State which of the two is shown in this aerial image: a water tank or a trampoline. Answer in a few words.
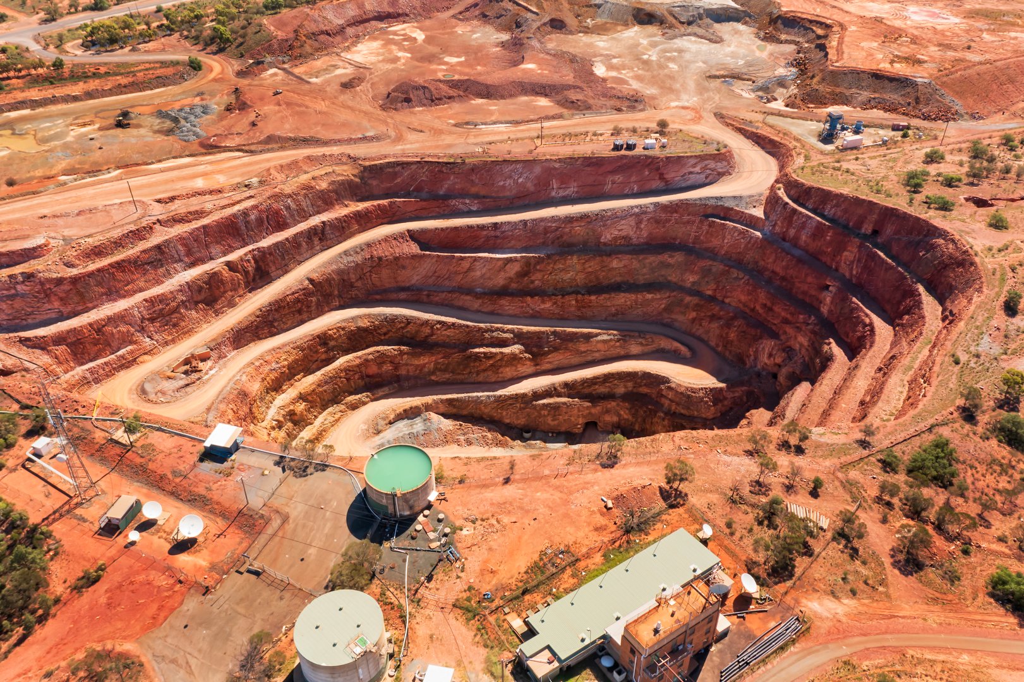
water tank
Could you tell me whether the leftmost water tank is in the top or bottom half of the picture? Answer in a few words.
bottom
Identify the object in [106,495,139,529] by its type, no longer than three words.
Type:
shed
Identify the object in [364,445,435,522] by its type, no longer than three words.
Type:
water tank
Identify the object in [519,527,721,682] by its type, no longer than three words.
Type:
building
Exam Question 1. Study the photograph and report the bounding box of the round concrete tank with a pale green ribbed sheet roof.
[294,591,392,682]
